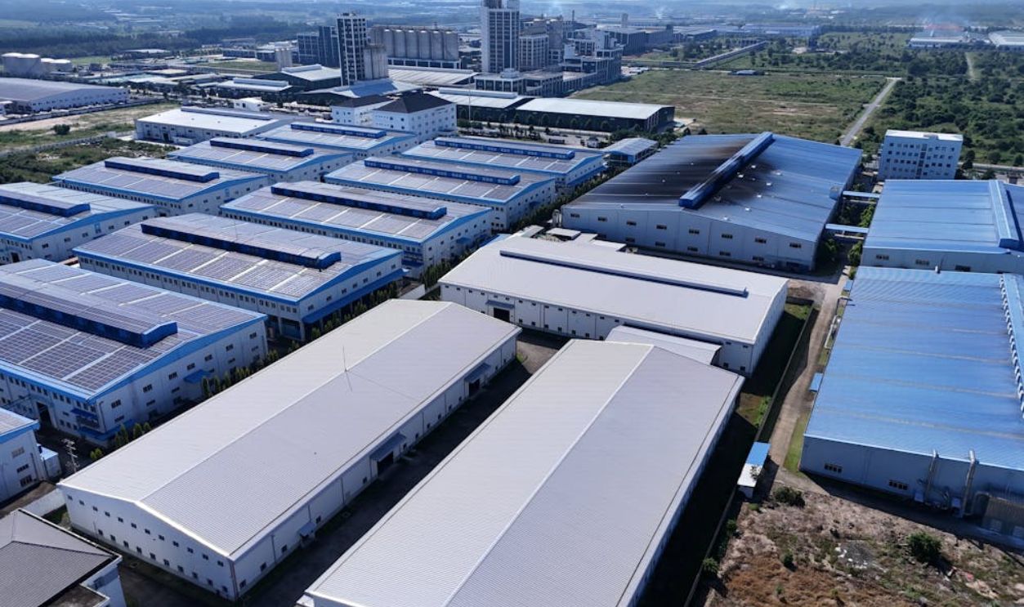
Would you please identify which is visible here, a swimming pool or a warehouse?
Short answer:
warehouse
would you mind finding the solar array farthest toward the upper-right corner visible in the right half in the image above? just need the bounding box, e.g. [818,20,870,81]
[603,136,657,154]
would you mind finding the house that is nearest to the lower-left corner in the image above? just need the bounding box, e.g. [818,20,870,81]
[0,509,119,607]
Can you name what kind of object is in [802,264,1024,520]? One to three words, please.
building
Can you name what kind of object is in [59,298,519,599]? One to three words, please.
warehouse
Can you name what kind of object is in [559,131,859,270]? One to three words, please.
building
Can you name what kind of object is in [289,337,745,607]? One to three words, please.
warehouse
